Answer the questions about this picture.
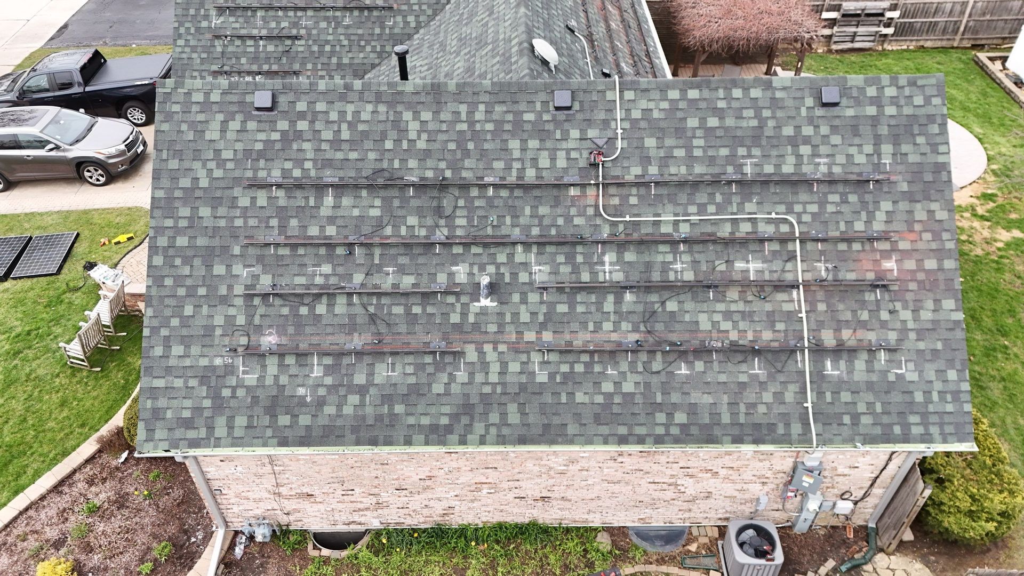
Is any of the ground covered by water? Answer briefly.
No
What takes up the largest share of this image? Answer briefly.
buildings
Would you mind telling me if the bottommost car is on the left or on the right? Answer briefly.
left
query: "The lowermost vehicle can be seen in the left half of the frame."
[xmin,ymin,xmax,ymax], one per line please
[0,103,148,190]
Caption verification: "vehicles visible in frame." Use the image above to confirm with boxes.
[0,103,148,190]
[0,47,172,128]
